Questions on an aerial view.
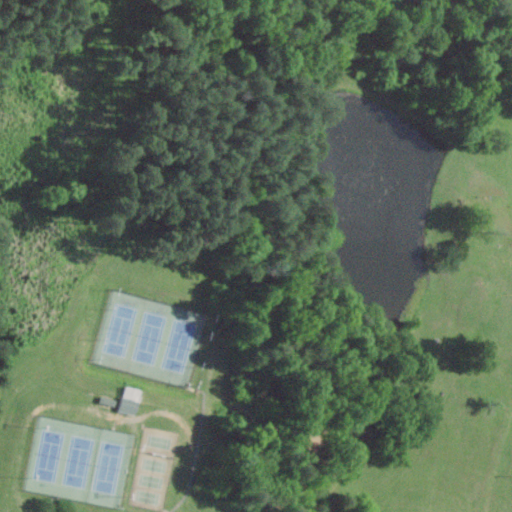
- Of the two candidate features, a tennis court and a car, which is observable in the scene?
tennis court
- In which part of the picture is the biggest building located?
bottom left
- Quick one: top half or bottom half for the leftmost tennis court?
bottom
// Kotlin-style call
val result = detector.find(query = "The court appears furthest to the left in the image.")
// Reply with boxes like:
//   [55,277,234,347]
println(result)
[35,432,64,482]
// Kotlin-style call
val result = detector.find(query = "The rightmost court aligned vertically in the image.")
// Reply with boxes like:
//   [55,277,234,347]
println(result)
[162,320,195,372]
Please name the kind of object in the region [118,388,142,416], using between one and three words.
building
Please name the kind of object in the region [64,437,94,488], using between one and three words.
tennis court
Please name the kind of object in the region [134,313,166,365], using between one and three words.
tennis court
